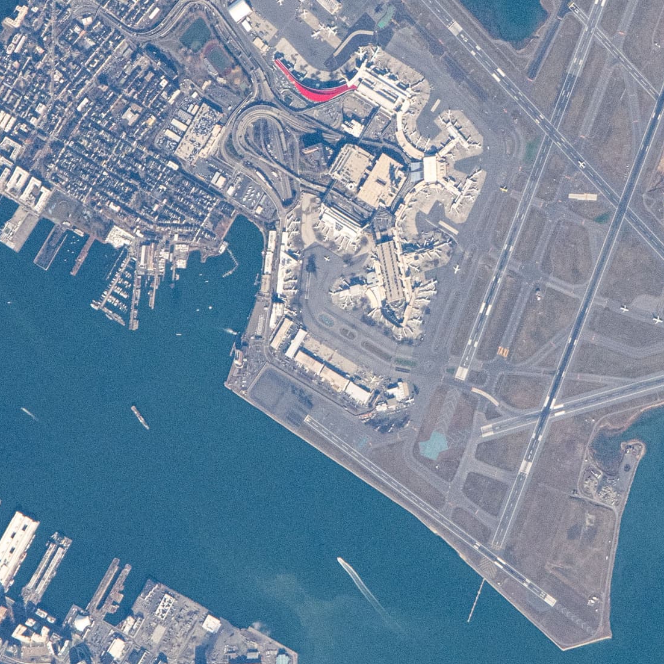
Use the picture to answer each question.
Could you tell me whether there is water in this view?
Yes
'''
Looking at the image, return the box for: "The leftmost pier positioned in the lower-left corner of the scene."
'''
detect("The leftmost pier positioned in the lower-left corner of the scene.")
[21,533,71,602]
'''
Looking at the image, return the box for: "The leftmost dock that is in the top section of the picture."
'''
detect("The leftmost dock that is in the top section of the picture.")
[0,204,40,253]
